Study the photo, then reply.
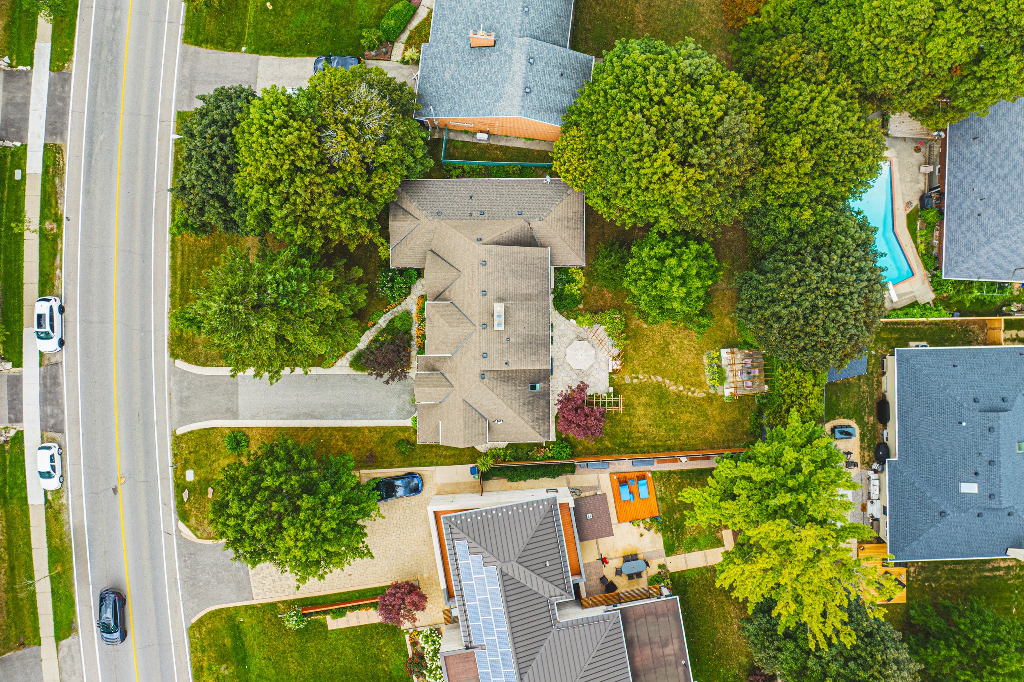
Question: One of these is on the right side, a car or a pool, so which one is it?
pool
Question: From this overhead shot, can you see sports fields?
No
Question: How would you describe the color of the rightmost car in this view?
blue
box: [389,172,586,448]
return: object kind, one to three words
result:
house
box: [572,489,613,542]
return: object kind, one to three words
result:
building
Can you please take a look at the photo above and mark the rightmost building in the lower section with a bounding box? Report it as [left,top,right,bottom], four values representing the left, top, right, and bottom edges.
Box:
[879,345,1024,562]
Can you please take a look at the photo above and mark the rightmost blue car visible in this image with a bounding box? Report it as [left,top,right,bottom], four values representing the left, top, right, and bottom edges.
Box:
[371,472,424,502]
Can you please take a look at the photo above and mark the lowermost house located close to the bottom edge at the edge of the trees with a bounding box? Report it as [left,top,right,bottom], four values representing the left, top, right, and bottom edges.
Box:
[427,477,693,682]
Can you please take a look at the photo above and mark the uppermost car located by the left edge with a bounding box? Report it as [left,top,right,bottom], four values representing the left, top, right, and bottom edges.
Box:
[35,296,68,352]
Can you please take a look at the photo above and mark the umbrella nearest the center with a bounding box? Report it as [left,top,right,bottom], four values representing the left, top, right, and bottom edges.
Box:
[566,341,595,370]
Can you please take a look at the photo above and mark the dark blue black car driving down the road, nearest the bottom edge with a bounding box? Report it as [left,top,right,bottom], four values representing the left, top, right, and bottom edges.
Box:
[98,588,131,644]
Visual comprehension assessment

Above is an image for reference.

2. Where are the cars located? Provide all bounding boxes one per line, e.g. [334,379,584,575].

[314,53,364,79]
[35,296,68,352]
[37,442,68,490]
[371,472,424,502]
[98,588,131,644]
